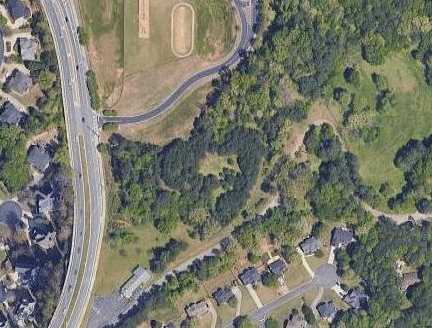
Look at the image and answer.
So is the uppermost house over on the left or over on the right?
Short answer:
left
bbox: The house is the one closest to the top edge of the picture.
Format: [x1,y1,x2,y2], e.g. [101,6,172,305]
[2,0,30,24]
